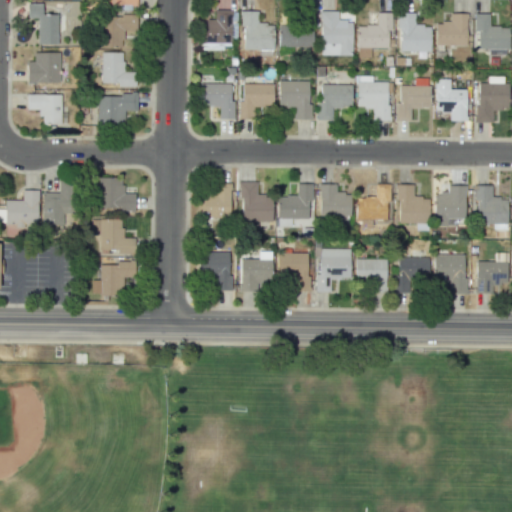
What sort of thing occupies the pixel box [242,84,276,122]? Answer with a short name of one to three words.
house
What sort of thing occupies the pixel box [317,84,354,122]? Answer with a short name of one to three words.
house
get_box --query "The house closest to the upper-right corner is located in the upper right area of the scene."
[475,14,512,51]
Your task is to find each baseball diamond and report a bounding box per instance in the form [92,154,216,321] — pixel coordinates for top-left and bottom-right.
[0,385,48,480]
